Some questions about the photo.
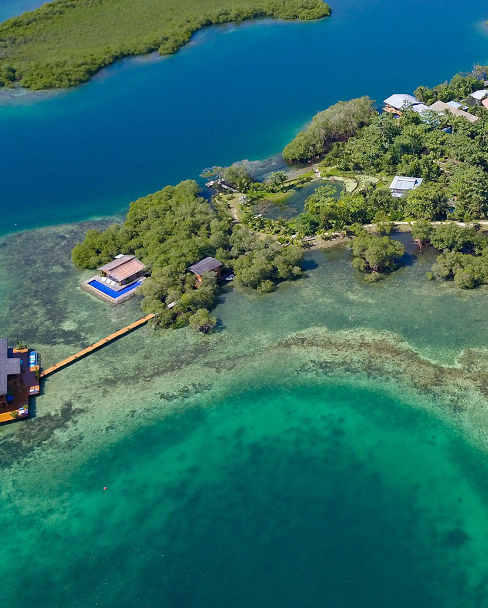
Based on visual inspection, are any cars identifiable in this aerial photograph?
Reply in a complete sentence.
No, there is no car in the image.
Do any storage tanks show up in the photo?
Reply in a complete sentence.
No, the frame has no storage tank in it.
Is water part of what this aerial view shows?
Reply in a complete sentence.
Yes, there's water in this view.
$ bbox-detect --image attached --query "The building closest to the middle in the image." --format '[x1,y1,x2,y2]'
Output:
[186,257,231,291]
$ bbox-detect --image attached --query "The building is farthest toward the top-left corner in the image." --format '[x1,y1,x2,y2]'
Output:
[96,254,147,290]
